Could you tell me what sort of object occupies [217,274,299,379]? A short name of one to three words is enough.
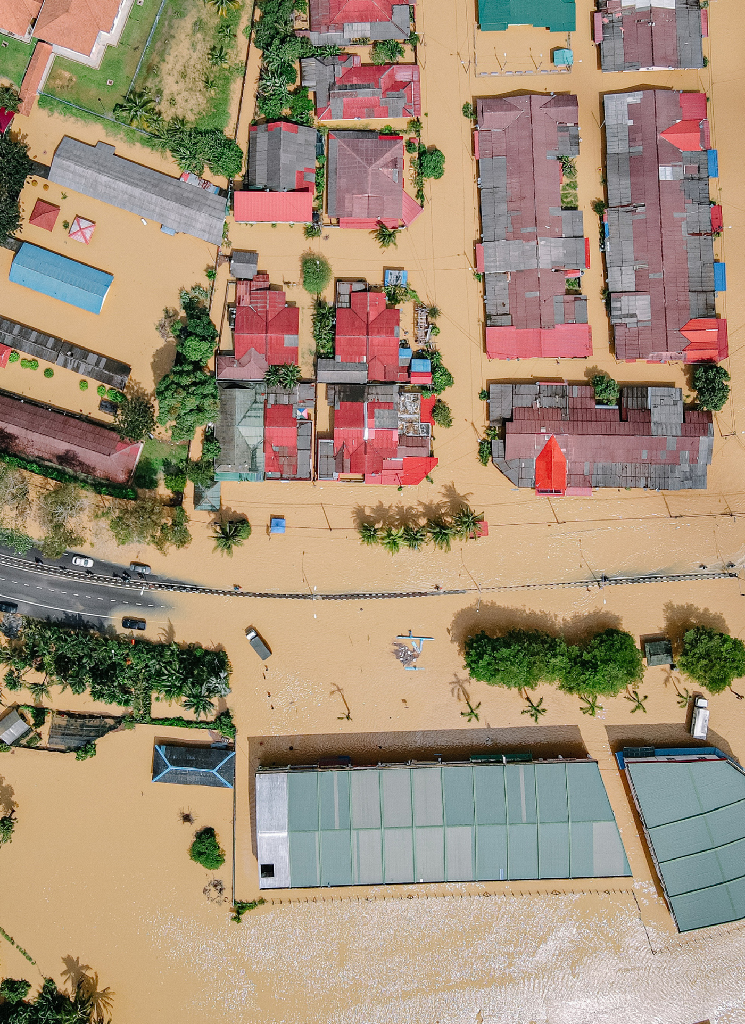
house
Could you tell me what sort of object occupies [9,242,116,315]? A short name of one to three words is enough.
building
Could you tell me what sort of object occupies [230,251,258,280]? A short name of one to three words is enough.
shed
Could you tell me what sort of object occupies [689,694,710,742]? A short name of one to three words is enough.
truck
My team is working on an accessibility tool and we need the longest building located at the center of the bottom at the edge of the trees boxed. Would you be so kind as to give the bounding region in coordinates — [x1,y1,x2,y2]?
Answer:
[255,749,633,890]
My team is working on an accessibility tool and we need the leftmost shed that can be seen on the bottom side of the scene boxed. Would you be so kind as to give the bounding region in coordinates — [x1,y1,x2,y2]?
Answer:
[0,707,31,744]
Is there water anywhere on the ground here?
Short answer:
Yes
